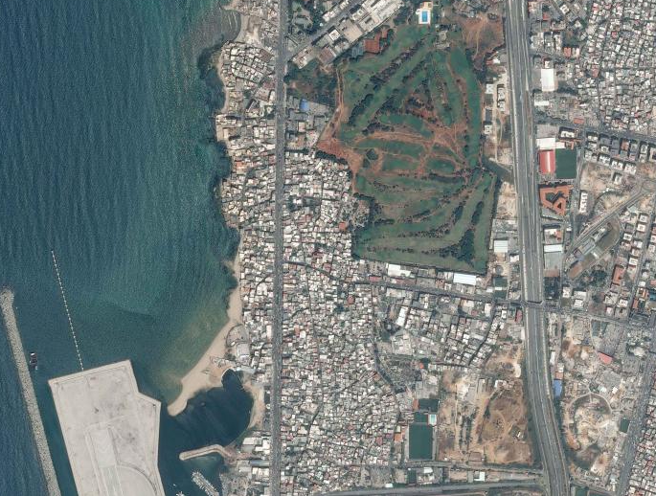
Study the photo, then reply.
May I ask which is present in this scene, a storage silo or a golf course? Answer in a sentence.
It is a golf course that can be seen here.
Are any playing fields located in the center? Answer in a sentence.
No, the scene shows no playing field in the center.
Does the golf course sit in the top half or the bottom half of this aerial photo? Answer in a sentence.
The top half of the photo is where the golf course is.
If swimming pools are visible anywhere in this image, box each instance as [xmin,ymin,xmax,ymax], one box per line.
[419,9,431,25]
[429,413,437,425]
